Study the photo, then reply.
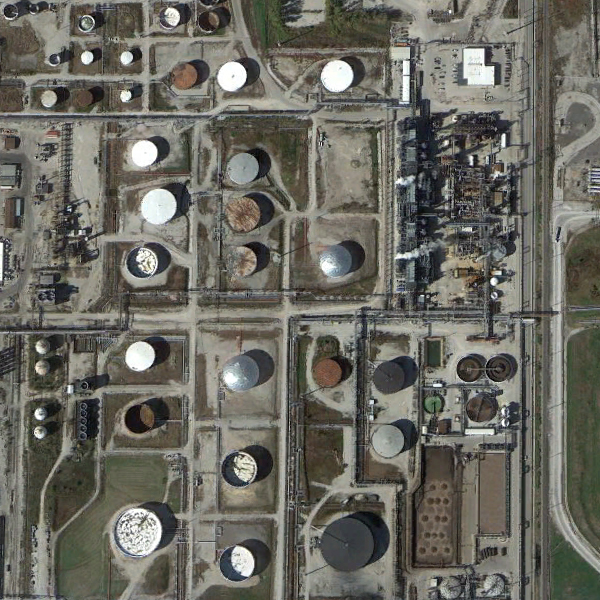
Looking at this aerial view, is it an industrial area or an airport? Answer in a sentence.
What you see here is an industrial area.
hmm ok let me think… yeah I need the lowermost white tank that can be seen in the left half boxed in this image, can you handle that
[219,544,256,582]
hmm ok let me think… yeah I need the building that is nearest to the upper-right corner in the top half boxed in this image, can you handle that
[463,48,495,86]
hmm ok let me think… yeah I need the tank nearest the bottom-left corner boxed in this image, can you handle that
[113,506,165,557]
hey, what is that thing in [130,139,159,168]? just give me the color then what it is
white storage tank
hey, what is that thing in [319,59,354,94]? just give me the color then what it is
white storage tank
